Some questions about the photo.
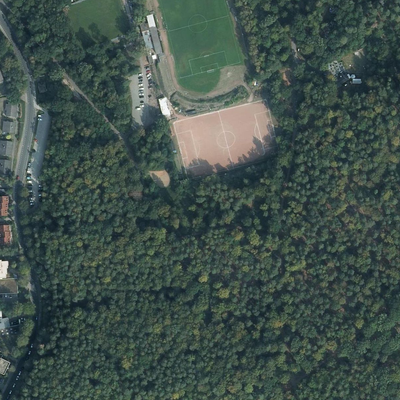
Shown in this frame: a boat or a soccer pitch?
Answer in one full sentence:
I can see a soccer pitch in this picture.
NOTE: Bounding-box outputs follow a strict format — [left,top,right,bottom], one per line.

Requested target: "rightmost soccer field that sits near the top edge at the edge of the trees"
[155,0,244,93]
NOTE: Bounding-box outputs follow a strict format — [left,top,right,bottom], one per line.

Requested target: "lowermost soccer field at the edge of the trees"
[173,100,280,179]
